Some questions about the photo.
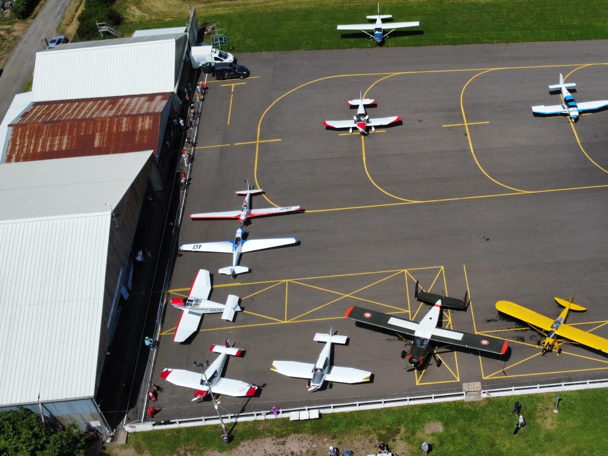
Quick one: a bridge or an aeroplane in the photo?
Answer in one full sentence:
There is an aeroplane in the scene.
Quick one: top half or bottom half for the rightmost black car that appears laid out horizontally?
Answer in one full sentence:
It is in the top half that the rightmost black car that appears laid out horizontally appears.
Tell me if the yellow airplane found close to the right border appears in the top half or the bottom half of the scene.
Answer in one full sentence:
It is in the bottom half that the yellow airplane found close to the right border appears.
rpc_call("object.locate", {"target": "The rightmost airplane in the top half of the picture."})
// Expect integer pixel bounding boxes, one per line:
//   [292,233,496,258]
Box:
[531,76,608,127]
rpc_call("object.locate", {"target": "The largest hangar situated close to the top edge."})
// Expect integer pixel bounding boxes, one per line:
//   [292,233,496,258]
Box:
[29,3,207,123]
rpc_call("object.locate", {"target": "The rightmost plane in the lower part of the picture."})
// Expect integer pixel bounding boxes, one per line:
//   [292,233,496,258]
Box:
[497,295,608,354]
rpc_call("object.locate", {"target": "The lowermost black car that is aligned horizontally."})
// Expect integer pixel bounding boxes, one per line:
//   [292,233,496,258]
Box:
[200,60,246,80]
